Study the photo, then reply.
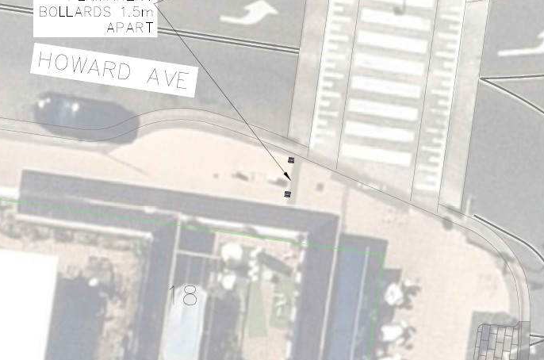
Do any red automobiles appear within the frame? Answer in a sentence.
No, there is no red automobile in the image.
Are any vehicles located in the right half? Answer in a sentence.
No, no vehicle appears in the right half.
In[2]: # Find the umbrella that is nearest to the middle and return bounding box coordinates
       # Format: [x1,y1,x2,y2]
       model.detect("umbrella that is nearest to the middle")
[219,243,240,264]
